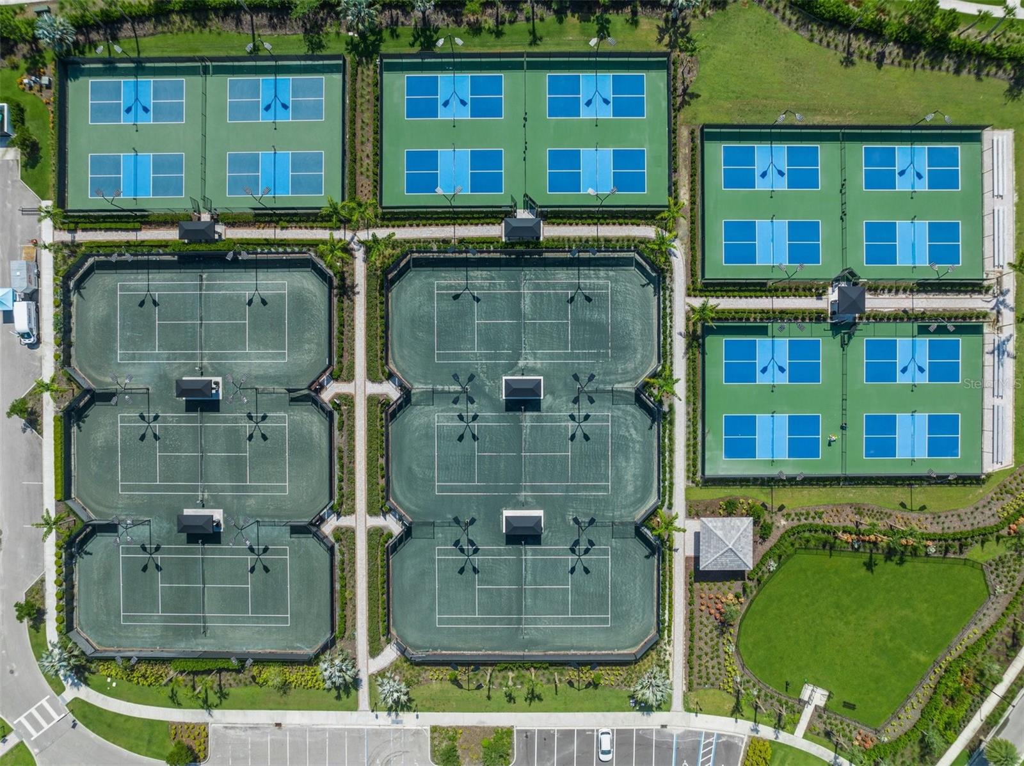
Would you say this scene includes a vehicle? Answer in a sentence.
Yes, the frame does contain a vehicle.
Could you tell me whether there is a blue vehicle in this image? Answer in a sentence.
No, there appears to be no blue vehicle in this shot.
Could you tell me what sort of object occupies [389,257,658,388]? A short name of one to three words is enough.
tennis court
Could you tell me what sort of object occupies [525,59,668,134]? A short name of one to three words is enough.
sports court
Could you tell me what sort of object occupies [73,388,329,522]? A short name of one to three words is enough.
tennis court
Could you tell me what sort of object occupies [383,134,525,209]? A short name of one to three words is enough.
sports court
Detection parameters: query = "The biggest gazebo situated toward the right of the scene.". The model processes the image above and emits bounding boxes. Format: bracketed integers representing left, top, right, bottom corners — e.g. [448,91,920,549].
[698,516,754,571]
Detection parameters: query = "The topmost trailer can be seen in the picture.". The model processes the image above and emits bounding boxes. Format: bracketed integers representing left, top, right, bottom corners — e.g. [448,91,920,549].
[13,247,39,300]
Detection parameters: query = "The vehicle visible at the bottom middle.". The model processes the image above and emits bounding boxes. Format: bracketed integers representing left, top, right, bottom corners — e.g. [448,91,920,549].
[597,729,613,764]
